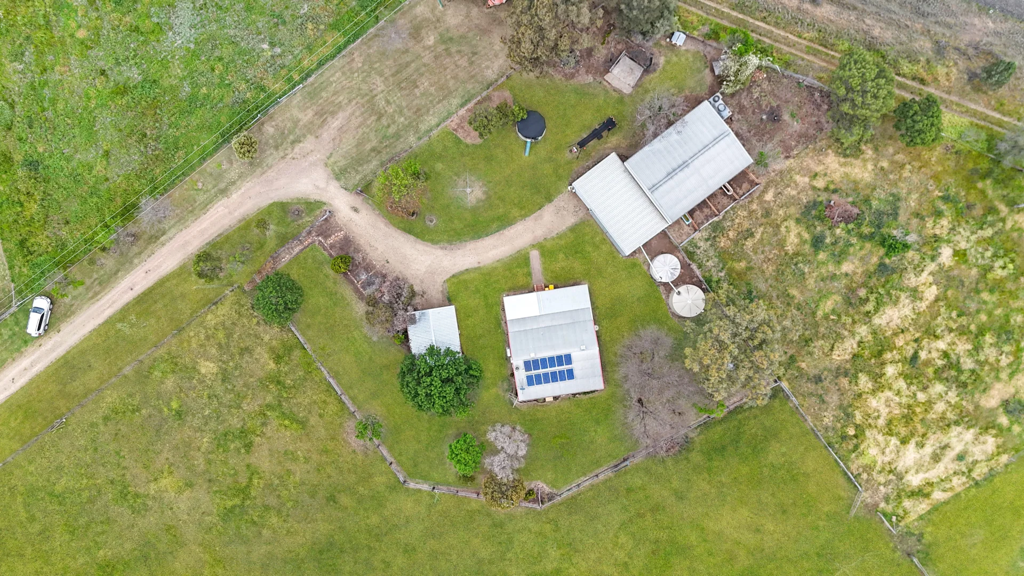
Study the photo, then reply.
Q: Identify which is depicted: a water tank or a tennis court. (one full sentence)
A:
I can see a water tank in this picture.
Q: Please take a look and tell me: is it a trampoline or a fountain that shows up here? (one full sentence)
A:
The one in the frame is a trampoline.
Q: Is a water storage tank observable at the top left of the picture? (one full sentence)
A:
No, there is no water storage tank at the top left of the picture.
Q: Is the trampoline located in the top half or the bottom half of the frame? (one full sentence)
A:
The trampoline is in the top half of the image.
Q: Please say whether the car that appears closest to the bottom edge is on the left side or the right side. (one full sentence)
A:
The car that appears closest to the bottom edge appears in the left half of the scene.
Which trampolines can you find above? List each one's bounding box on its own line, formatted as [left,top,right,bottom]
[516,111,547,156]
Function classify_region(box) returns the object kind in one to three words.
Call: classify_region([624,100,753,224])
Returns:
barn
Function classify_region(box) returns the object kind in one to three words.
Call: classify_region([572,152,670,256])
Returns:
shed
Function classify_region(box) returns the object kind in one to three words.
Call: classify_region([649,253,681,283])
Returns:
water tank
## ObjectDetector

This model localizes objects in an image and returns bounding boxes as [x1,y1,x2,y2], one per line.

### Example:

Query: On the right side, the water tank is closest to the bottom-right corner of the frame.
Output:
[669,284,706,317]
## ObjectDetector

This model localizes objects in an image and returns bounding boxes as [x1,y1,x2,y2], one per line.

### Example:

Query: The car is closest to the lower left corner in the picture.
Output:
[26,296,53,338]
